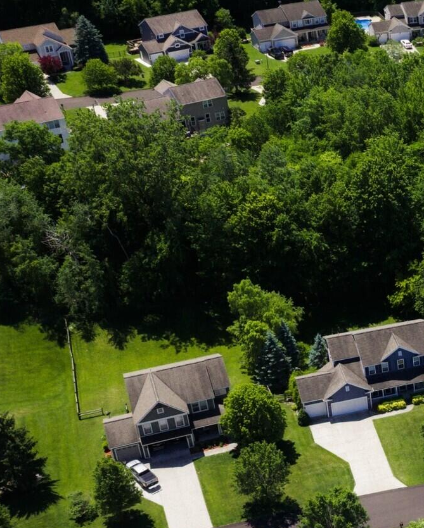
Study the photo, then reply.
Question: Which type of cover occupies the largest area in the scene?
trees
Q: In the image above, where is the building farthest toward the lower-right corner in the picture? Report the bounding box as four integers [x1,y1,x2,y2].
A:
[293,323,424,418]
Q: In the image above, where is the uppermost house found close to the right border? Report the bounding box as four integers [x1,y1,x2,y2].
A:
[366,0,424,43]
